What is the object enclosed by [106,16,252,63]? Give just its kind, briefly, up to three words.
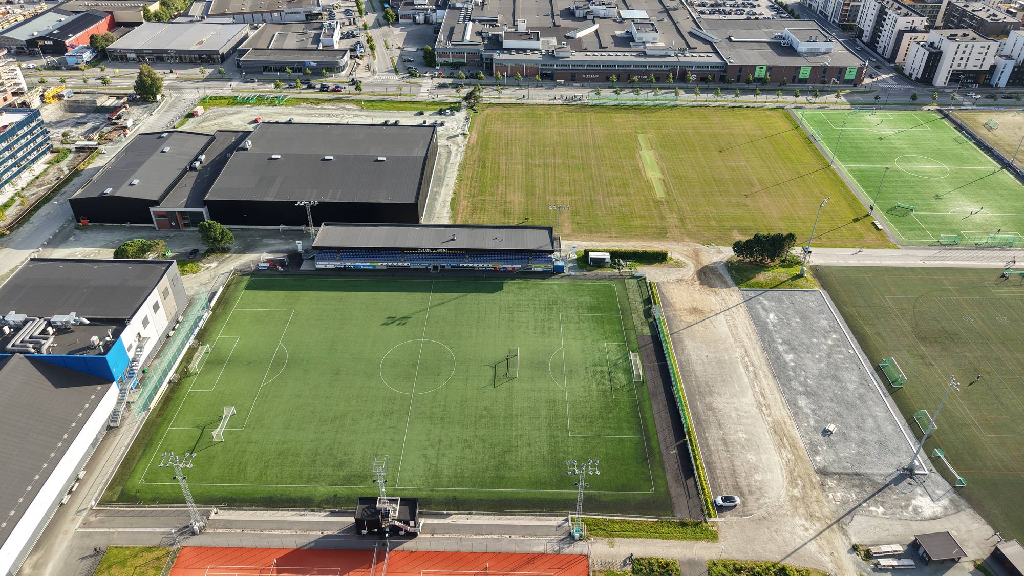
building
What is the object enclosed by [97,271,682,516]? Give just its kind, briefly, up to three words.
sports field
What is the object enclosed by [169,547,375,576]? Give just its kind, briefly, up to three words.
tennis court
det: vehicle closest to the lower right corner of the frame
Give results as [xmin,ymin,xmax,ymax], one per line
[717,498,743,510]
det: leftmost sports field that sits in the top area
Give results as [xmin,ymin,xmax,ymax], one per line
[451,105,895,247]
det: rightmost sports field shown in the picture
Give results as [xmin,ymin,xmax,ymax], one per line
[793,110,1024,248]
